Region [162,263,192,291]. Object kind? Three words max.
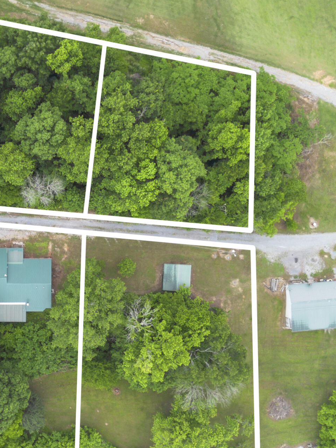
shed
